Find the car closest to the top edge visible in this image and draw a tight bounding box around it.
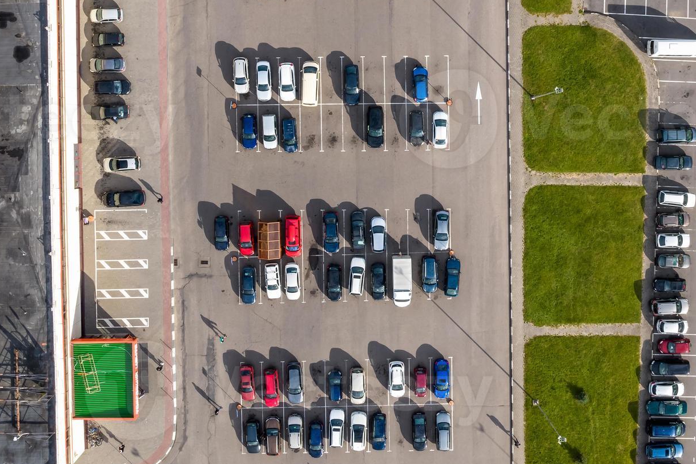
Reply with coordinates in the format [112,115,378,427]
[90,7,123,24]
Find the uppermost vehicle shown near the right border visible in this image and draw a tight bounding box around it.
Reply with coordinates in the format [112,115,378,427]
[646,38,696,57]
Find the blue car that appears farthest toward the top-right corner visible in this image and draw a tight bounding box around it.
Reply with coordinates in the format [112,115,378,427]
[658,125,696,144]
